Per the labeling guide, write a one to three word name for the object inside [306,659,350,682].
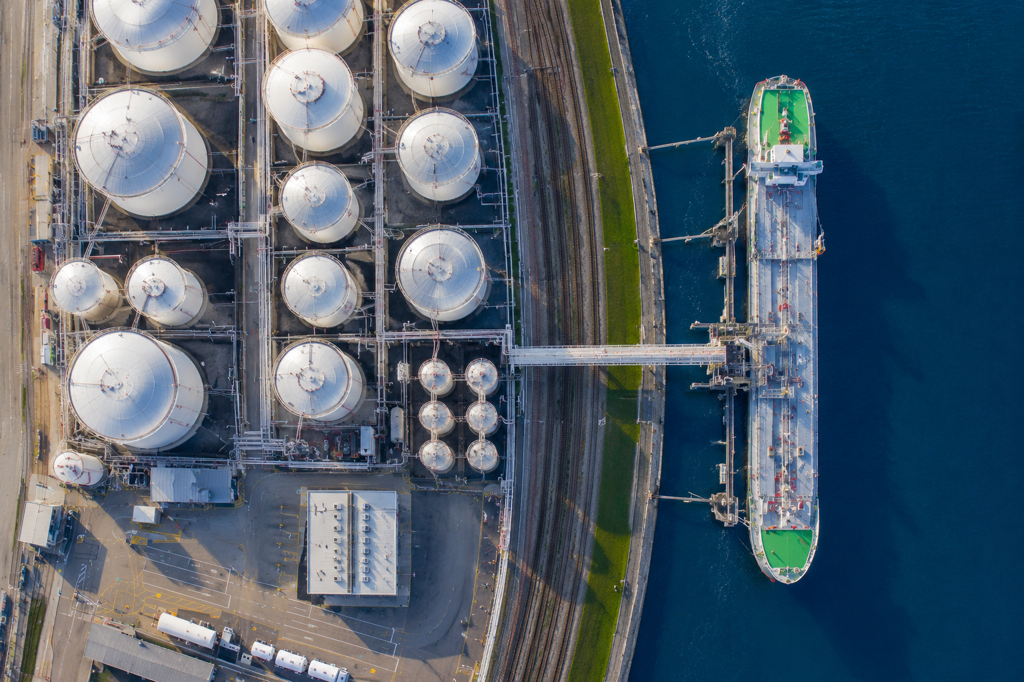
truck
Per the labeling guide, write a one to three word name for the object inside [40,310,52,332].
vehicle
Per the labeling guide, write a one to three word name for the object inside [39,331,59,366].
trailer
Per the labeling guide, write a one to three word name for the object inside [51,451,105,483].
storage tank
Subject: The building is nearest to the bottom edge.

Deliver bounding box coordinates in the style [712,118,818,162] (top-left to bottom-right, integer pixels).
[84,623,216,682]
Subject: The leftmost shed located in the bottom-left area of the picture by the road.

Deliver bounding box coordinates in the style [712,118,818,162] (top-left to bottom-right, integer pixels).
[18,502,68,548]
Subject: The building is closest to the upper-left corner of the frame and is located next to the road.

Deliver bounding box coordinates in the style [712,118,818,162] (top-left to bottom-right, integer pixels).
[28,155,57,201]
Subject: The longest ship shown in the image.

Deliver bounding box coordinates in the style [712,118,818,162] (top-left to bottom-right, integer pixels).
[739,73,825,584]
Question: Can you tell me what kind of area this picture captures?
industrial area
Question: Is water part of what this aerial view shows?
Yes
